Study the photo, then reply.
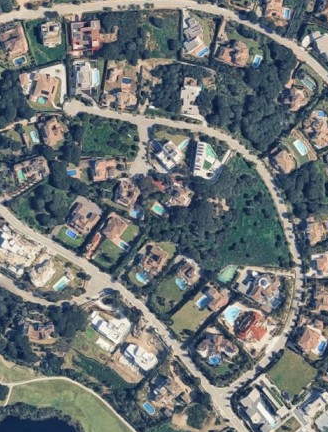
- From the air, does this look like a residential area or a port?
residential area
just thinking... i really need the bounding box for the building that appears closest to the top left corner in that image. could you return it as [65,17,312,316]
[0,26,27,57]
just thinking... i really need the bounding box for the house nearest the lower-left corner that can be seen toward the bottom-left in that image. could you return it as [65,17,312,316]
[26,322,54,339]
